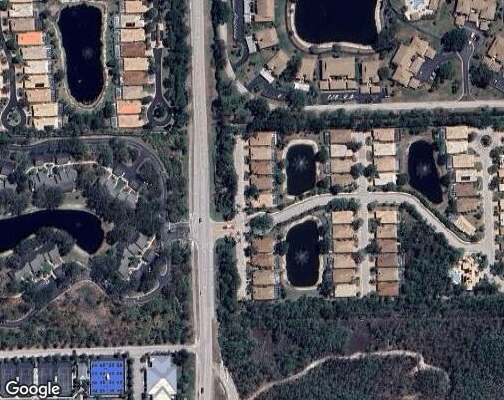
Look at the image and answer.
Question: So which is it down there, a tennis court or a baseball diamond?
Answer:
tennis court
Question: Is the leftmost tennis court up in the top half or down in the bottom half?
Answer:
bottom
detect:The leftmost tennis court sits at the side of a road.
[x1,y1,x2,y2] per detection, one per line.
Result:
[0,361,34,397]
